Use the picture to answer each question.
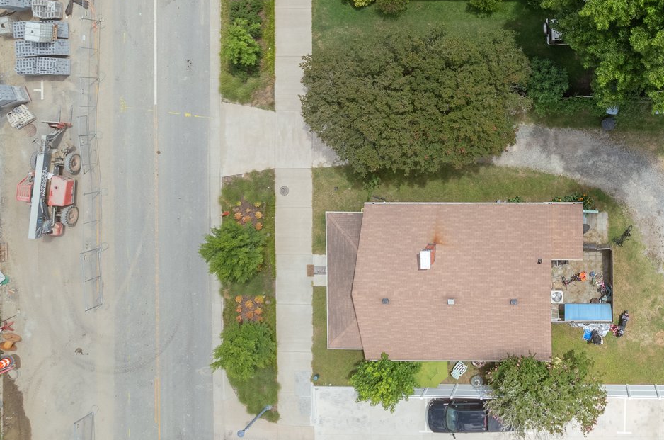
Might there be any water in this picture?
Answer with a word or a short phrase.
No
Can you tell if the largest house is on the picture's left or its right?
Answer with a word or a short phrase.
right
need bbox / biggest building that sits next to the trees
[326,201,583,362]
